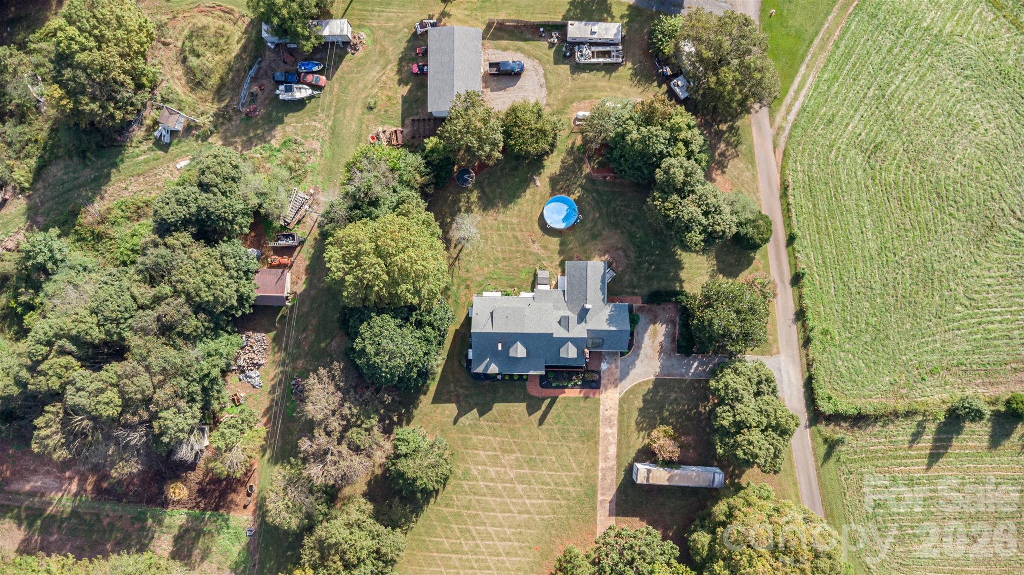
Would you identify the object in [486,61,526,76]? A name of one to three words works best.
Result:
vehicle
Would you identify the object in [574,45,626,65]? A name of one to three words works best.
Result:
boat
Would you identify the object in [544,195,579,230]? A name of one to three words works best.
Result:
swimming pool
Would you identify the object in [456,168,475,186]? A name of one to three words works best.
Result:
trampoline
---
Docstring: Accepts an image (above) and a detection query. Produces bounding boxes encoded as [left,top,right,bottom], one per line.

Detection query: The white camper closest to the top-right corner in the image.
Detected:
[566,23,625,46]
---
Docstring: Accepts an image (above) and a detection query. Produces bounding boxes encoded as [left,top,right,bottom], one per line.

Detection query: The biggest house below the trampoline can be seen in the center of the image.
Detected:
[468,261,630,375]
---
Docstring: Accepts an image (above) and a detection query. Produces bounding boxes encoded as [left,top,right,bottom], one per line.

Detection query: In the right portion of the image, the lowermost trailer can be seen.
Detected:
[630,460,726,487]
